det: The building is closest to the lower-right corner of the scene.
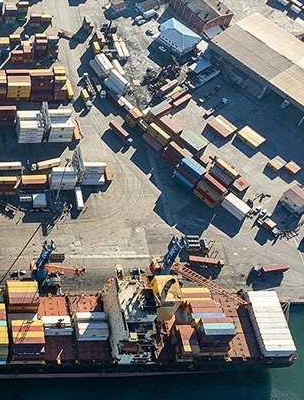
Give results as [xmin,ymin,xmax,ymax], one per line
[278,184,304,219]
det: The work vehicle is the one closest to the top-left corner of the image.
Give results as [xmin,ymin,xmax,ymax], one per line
[48,15,74,39]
